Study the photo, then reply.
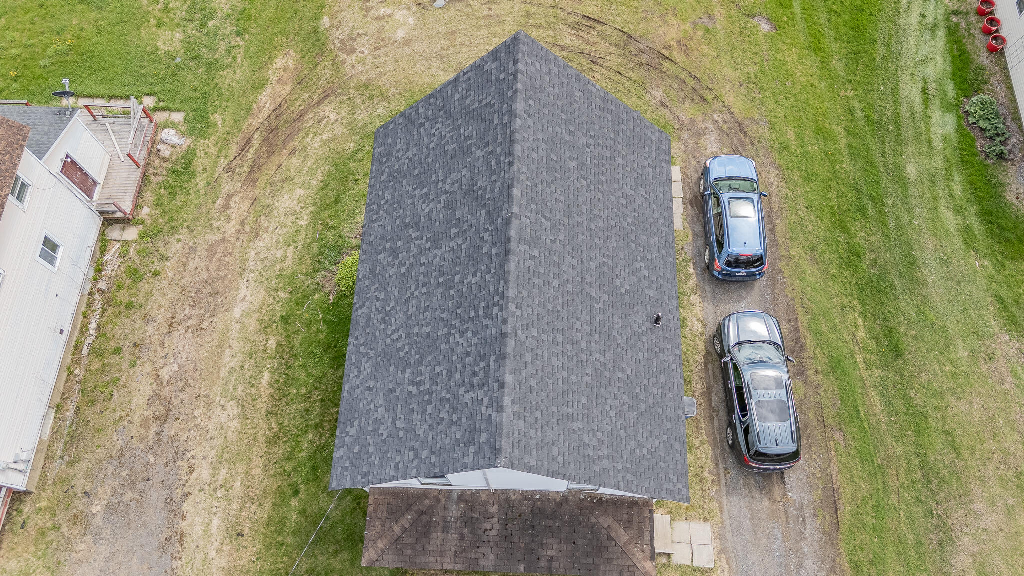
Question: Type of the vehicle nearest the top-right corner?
automobile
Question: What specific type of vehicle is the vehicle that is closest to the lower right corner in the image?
car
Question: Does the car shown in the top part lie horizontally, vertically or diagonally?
vertically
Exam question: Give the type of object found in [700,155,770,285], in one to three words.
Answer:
car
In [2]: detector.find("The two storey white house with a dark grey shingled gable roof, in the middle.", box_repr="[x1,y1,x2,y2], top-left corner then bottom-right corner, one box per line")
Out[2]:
[329,29,691,576]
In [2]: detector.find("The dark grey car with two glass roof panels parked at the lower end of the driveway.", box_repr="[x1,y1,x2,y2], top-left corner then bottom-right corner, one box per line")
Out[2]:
[714,310,805,475]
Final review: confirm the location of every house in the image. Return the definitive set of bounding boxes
[0,109,120,490]
[990,0,1024,136]
[329,29,691,576]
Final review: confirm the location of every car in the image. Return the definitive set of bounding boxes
[714,310,805,475]
[700,155,770,285]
